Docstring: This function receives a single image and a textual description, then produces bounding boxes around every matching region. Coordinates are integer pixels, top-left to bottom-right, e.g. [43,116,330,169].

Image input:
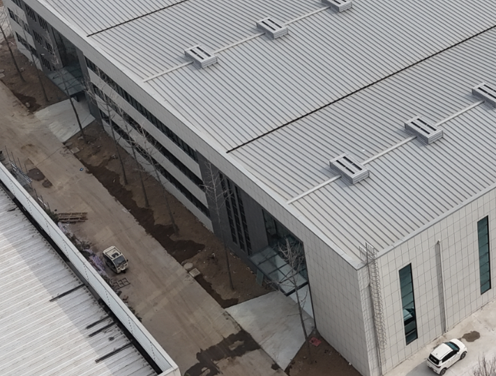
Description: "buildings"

[0,162,178,376]
[3,0,496,376]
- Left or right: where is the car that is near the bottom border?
right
